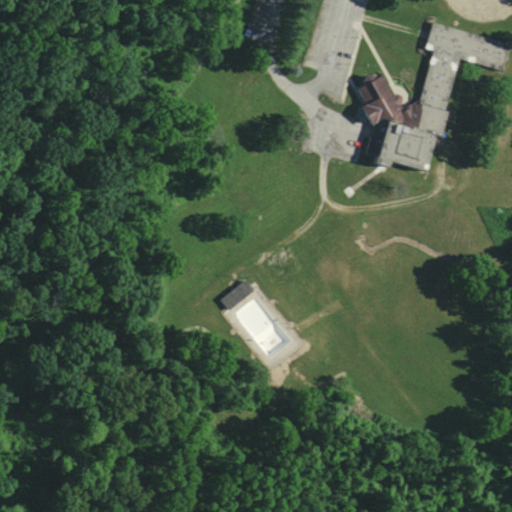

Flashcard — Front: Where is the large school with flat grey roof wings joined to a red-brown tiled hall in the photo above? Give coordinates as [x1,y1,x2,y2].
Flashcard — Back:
[360,22,508,170]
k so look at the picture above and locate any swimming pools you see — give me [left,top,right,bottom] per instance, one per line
[222,284,307,370]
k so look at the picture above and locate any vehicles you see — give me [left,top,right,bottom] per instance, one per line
[246,28,252,38]
[340,52,352,58]
[347,140,362,146]
[251,34,260,40]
